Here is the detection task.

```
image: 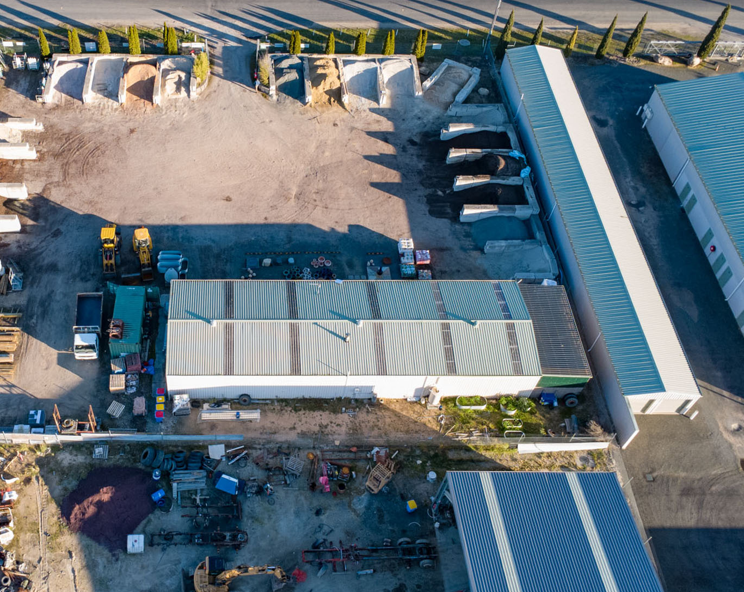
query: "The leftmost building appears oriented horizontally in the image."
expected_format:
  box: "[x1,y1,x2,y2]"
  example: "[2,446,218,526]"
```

[166,274,543,400]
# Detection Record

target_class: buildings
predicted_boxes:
[166,274,543,400]
[643,74,744,337]
[501,46,704,447]
[420,469,667,592]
